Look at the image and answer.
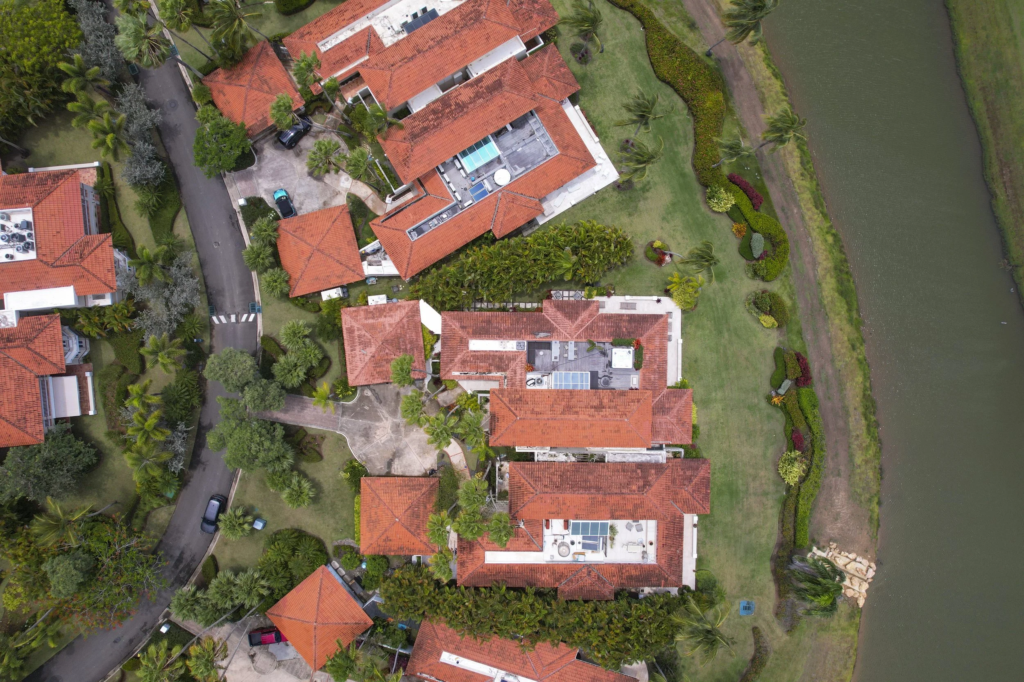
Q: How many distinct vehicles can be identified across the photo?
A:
4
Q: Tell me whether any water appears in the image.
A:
Yes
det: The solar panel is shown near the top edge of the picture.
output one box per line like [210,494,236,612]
[404,8,439,33]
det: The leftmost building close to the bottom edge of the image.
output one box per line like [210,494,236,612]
[265,565,374,672]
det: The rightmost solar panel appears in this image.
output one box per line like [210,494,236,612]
[582,536,598,551]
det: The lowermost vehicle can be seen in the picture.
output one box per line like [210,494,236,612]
[246,630,292,651]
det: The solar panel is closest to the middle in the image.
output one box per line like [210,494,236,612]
[469,181,489,202]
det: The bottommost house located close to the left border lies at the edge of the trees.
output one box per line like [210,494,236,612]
[0,309,102,448]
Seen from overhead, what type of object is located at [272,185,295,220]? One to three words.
car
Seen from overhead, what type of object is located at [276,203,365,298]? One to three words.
building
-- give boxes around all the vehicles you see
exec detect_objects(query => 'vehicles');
[272,113,313,150]
[246,630,292,651]
[197,494,224,537]
[272,185,295,220]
